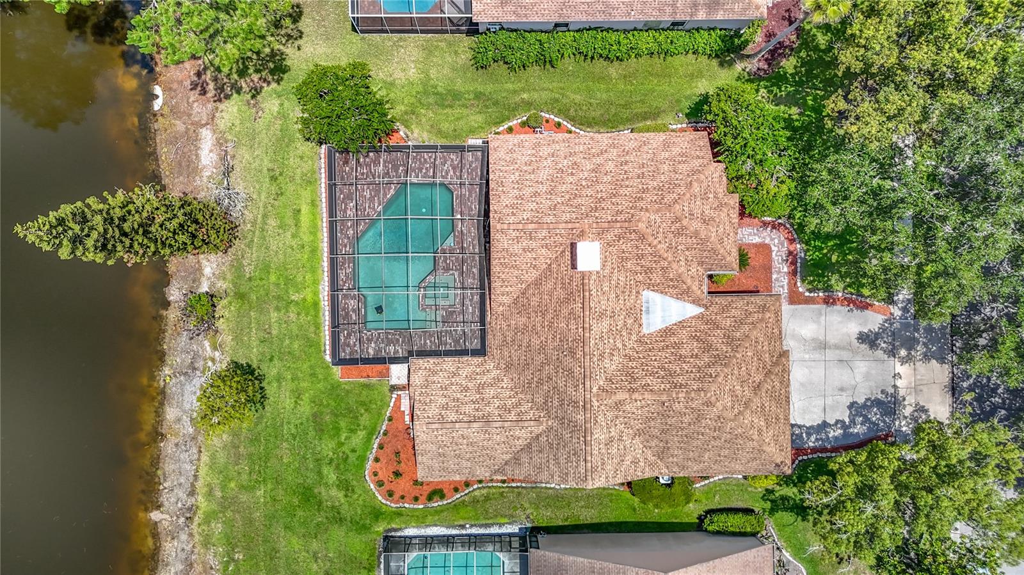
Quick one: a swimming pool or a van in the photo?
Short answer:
swimming pool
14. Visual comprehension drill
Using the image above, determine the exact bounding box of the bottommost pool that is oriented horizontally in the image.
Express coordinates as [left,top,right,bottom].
[405,554,505,575]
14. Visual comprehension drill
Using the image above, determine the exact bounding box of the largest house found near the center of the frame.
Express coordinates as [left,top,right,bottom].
[410,132,793,488]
